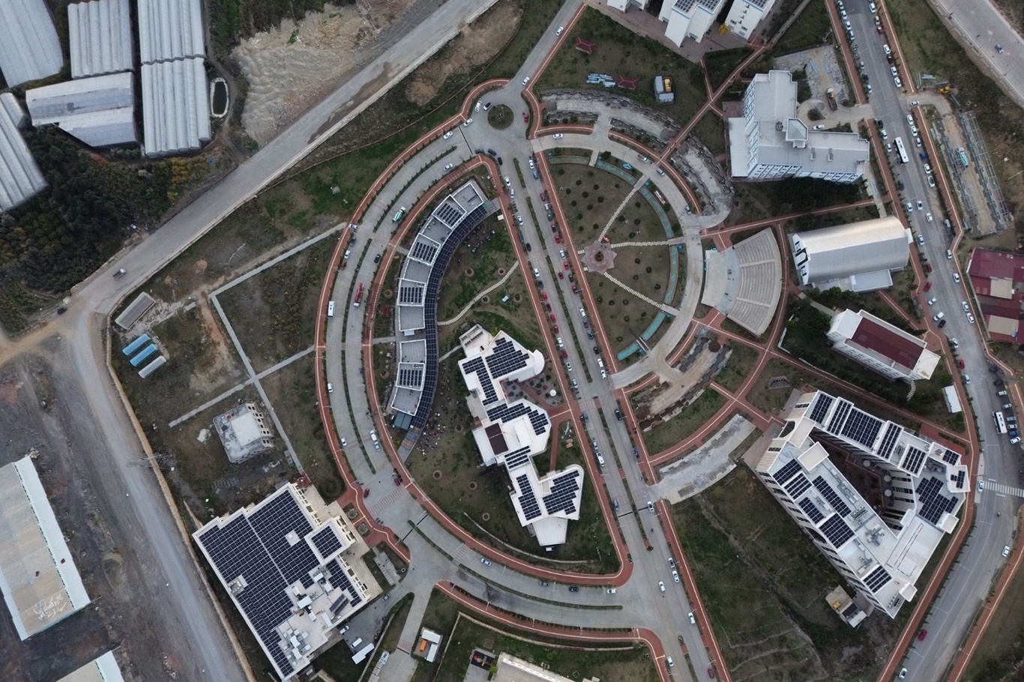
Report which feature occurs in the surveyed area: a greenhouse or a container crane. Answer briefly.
greenhouse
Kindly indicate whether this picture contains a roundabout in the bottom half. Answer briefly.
No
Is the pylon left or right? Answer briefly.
left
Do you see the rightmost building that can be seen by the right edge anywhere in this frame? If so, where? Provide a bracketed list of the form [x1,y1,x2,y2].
[962,247,1024,352]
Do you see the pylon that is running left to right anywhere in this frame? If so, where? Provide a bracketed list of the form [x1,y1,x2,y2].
[129,450,173,472]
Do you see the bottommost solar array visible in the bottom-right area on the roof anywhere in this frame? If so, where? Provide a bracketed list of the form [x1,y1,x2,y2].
[864,567,892,592]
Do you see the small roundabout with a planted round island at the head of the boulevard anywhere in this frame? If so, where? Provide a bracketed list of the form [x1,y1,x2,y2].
[478,95,523,138]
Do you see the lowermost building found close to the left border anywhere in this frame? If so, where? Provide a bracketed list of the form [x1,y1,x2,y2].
[51,649,133,682]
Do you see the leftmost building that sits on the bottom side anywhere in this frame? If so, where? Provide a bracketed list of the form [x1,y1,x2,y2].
[0,457,91,638]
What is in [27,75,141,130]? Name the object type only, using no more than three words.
greenhouse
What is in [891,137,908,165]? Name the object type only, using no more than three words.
vehicle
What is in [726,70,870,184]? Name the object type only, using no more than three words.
building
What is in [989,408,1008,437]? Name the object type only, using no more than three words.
vehicle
